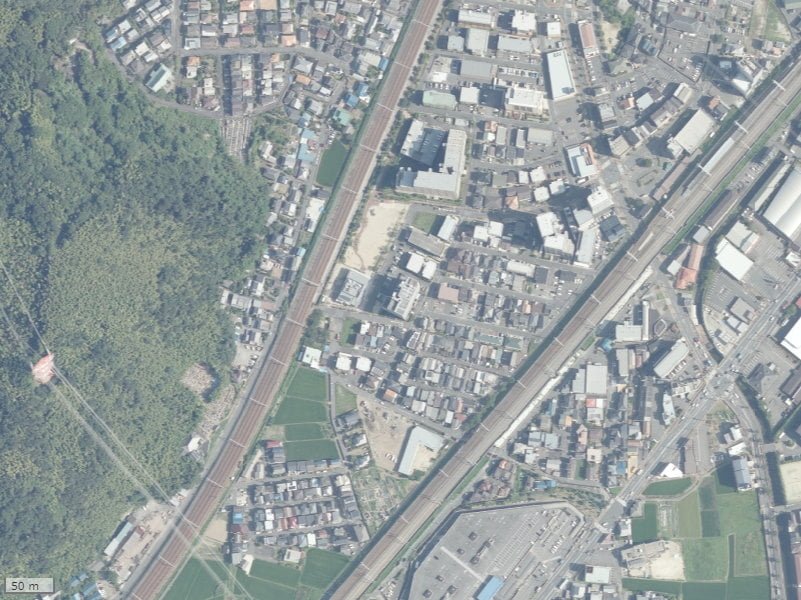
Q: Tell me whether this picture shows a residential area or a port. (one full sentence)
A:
This looks like a residential area.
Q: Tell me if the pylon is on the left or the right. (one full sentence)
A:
The pylon sits on the left side.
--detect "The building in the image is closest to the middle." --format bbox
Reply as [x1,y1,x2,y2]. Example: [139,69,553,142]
[386,275,421,323]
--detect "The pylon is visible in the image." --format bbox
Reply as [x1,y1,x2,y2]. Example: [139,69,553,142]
[28,361,56,383]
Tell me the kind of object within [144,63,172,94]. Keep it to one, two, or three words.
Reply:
building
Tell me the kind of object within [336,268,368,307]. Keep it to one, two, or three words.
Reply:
building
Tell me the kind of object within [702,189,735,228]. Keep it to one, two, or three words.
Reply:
shed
